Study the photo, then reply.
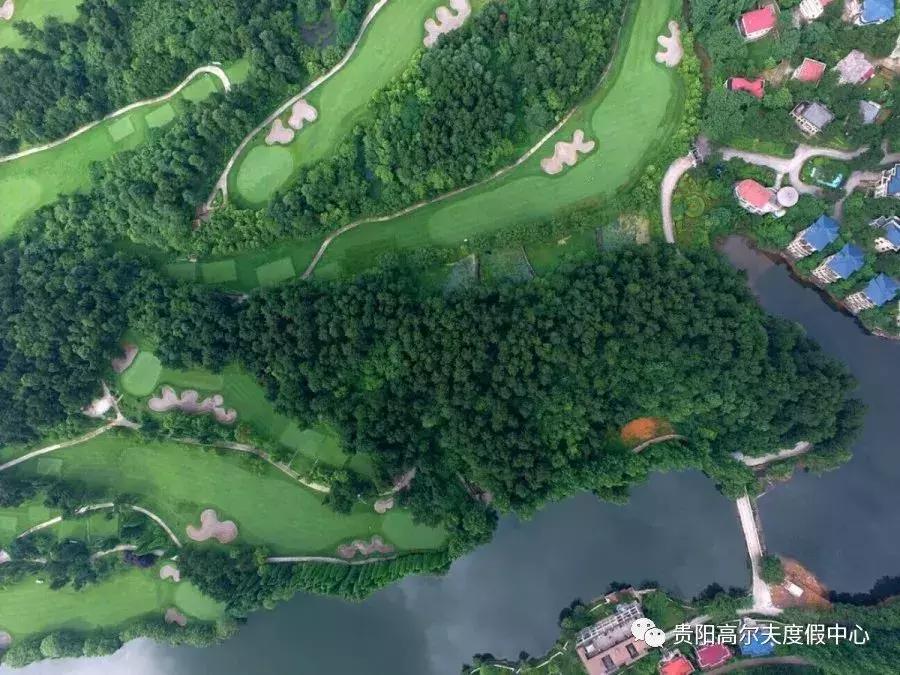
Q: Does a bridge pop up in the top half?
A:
No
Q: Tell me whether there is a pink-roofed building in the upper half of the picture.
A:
Yes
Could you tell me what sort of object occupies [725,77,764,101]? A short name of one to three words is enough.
house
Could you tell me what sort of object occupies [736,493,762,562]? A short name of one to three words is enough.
bridge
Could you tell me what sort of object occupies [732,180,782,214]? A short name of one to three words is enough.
house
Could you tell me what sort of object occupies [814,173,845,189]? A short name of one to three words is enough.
swimming pool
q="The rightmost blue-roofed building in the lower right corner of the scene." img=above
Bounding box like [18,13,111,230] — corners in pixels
[737,612,776,656]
